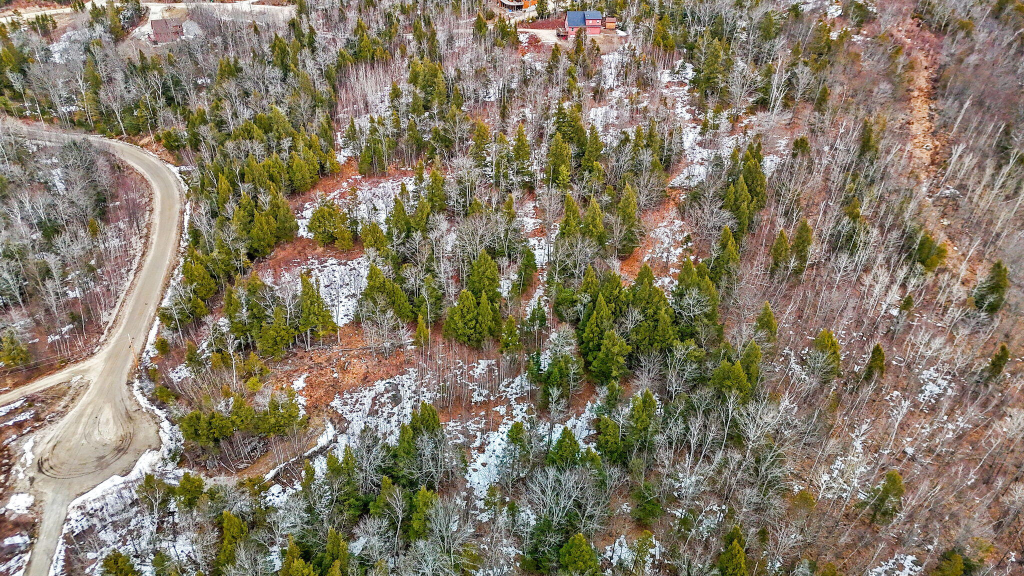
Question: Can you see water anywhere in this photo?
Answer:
No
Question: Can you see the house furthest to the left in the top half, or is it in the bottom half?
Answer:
top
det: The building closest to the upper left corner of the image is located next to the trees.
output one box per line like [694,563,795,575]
[135,12,195,43]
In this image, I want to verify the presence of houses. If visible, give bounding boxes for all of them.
[499,0,536,12]
[135,12,195,43]
[552,12,601,39]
